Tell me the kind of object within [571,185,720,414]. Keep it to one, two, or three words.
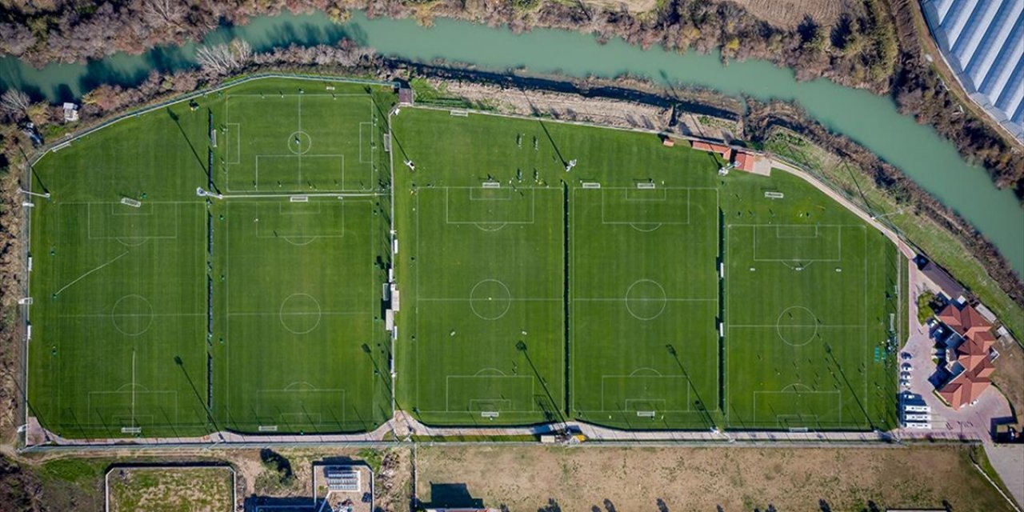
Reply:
soccer field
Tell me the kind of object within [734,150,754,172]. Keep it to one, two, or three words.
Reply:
shed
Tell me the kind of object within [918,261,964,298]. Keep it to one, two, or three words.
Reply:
shed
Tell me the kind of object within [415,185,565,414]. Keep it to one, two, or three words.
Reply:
soccer field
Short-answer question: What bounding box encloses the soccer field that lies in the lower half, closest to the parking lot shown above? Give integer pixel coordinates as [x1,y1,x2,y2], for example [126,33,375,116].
[726,223,868,429]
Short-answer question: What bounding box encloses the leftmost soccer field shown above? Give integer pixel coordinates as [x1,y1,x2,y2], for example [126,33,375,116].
[57,200,208,429]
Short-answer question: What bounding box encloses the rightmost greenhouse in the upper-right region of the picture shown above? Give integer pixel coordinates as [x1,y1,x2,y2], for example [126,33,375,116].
[922,0,1024,138]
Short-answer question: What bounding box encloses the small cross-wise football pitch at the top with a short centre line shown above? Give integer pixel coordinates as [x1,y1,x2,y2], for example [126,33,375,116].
[225,92,375,194]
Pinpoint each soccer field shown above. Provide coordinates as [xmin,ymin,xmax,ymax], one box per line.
[225,198,375,428]
[225,92,375,194]
[415,185,565,414]
[57,200,208,429]
[726,223,868,429]
[571,185,720,414]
